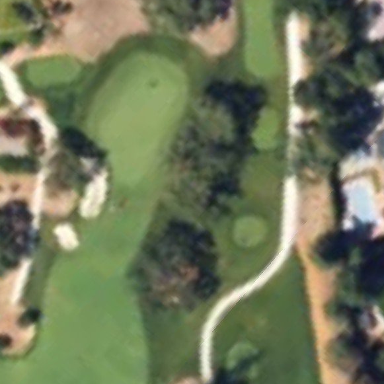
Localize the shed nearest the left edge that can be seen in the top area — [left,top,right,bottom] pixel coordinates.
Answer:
[0,130,29,154]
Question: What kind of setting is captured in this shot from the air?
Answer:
golf course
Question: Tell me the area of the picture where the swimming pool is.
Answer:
right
